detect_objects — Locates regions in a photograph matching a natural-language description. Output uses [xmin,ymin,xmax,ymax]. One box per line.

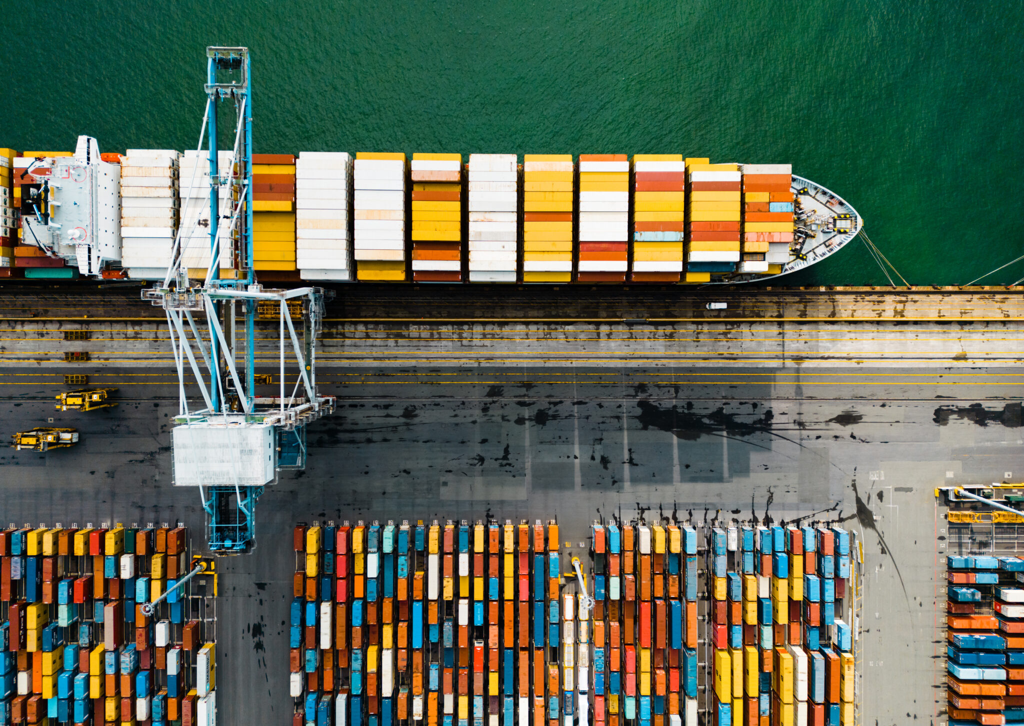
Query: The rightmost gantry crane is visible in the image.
[143,45,342,558]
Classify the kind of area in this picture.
port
